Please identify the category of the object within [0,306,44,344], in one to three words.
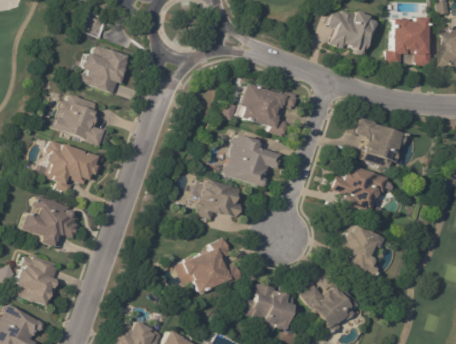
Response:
house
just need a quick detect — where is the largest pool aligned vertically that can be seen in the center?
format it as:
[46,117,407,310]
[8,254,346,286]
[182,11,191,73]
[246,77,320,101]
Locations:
[176,174,189,200]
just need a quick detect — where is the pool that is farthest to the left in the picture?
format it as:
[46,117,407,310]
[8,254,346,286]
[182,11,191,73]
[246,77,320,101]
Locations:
[28,143,42,163]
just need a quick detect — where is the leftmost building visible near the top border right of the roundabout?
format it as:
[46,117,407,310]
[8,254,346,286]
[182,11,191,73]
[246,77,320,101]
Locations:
[326,9,378,53]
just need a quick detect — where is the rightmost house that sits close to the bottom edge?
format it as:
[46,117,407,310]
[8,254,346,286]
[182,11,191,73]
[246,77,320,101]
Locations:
[298,284,358,330]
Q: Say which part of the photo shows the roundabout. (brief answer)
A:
top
